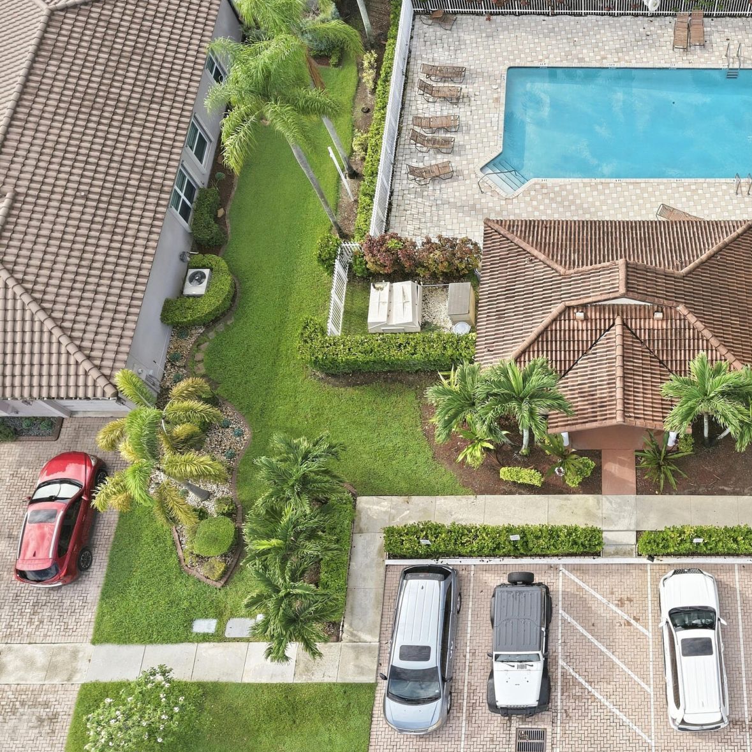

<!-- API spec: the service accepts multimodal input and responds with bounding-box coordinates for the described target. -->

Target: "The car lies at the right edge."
[659,564,733,735]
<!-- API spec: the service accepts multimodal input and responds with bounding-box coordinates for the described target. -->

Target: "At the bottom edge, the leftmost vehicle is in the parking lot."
[378,562,464,738]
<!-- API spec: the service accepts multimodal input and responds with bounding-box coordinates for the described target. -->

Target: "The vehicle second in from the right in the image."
[482,562,554,722]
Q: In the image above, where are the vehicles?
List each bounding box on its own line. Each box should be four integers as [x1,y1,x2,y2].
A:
[659,564,733,735]
[482,562,554,722]
[378,562,464,738]
[6,452,111,592]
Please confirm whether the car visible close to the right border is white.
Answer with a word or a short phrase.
Yes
